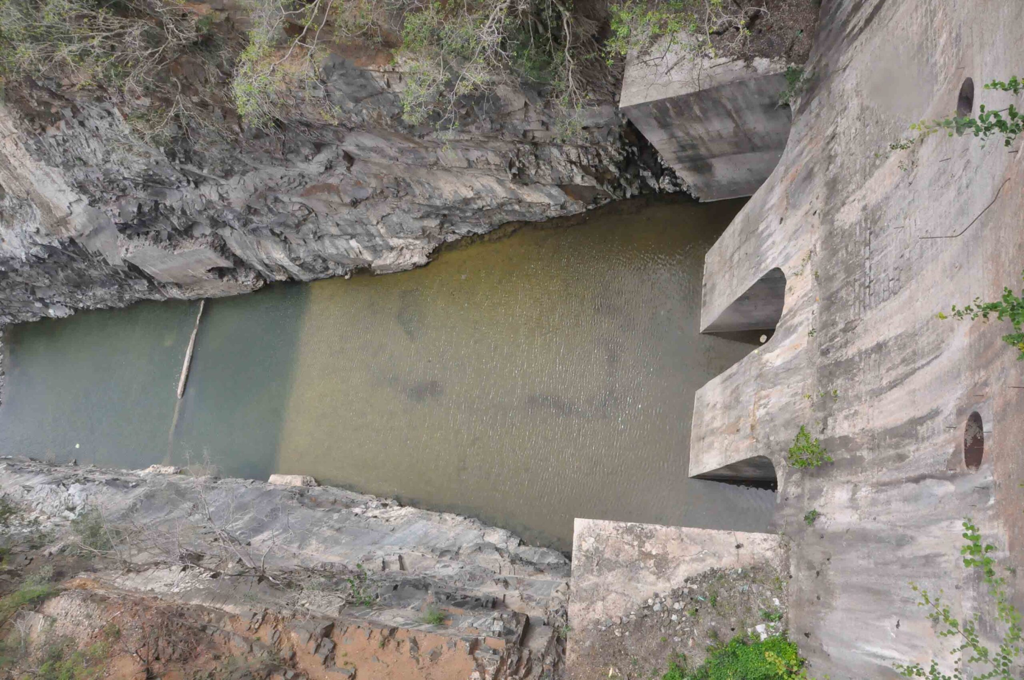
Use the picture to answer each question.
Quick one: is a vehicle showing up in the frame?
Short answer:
No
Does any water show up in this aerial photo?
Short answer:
Yes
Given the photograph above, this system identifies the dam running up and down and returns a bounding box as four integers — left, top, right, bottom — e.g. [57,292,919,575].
[690,0,1024,680]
